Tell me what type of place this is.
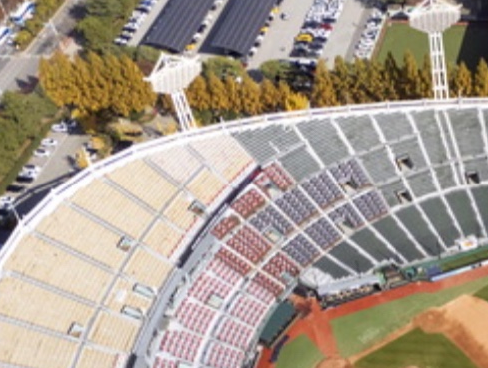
sports ground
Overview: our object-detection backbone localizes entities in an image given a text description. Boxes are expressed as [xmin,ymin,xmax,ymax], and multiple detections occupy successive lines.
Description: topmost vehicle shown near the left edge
[8,0,38,24]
